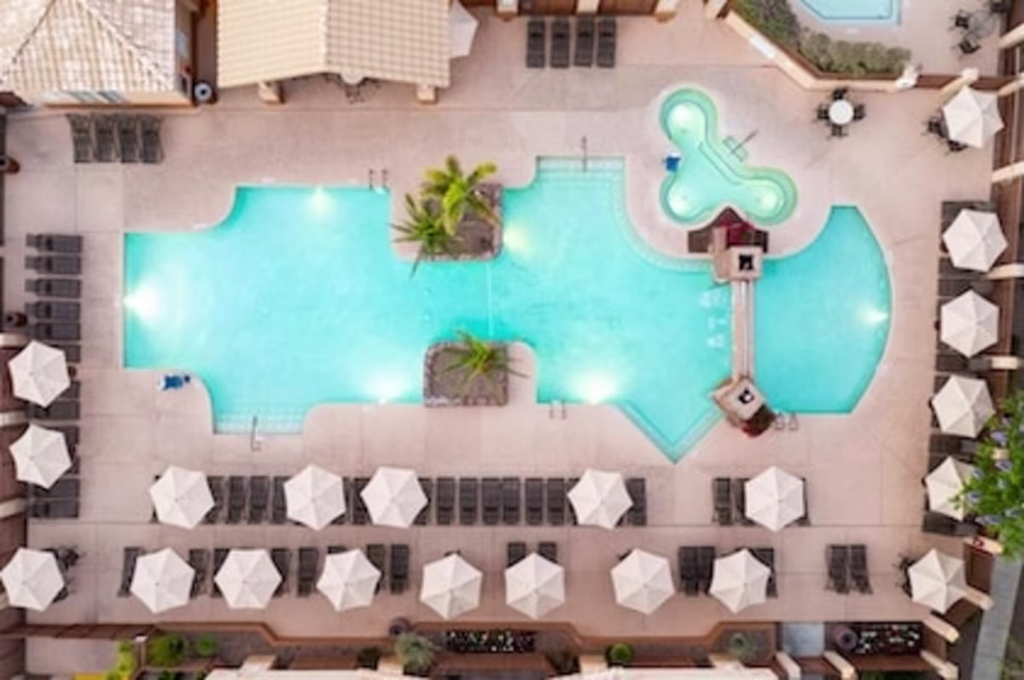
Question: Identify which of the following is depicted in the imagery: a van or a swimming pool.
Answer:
swimming pool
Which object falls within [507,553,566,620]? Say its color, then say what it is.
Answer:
white umbrella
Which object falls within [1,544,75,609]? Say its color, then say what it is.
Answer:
white umbrella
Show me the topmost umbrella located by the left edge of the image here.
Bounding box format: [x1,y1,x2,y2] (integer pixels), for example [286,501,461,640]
[9,339,82,406]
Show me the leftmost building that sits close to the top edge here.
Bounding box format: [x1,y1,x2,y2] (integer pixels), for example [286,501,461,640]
[0,0,194,105]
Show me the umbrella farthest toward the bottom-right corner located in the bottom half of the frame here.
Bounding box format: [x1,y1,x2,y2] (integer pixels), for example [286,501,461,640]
[898,545,967,613]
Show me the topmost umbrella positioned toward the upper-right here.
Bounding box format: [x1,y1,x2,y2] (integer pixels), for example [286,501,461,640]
[931,84,1002,149]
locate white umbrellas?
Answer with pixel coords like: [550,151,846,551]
[215,548,283,607]
[131,544,196,611]
[911,452,979,520]
[149,467,216,531]
[317,547,382,611]
[609,545,672,613]
[10,426,84,490]
[1,544,75,609]
[362,466,429,529]
[9,339,82,406]
[898,545,967,613]
[707,546,771,613]
[746,462,804,530]
[932,208,1005,271]
[285,461,347,529]
[928,290,998,358]
[565,469,632,532]
[507,553,566,620]
[931,84,1002,149]
[921,375,992,438]
[422,551,483,620]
